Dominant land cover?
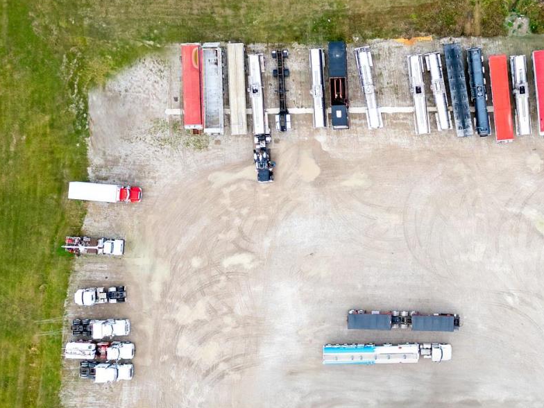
paved ground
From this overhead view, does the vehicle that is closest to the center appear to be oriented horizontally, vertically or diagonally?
vertically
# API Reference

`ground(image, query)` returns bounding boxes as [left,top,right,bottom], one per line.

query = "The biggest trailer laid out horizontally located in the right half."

[323,340,418,362]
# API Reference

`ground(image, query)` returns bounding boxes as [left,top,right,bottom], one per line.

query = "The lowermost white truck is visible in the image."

[80,359,135,383]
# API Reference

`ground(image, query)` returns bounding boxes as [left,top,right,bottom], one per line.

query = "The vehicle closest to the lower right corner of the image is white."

[415,341,452,362]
